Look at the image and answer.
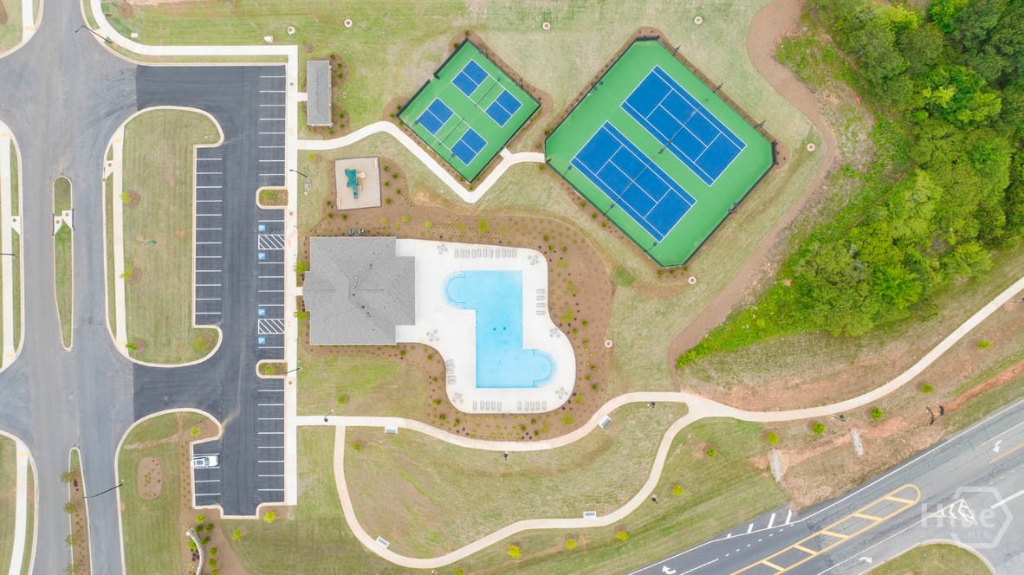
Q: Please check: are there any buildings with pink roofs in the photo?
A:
No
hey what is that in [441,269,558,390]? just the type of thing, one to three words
swimming pool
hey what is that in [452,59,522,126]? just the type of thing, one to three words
sports court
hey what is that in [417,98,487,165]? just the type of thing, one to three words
sports court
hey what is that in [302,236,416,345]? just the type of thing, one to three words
building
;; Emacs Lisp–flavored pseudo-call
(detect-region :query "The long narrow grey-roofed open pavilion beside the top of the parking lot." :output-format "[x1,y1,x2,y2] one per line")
[306,59,333,128]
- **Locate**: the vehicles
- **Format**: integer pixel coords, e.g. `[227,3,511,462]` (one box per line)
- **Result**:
[191,455,219,467]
